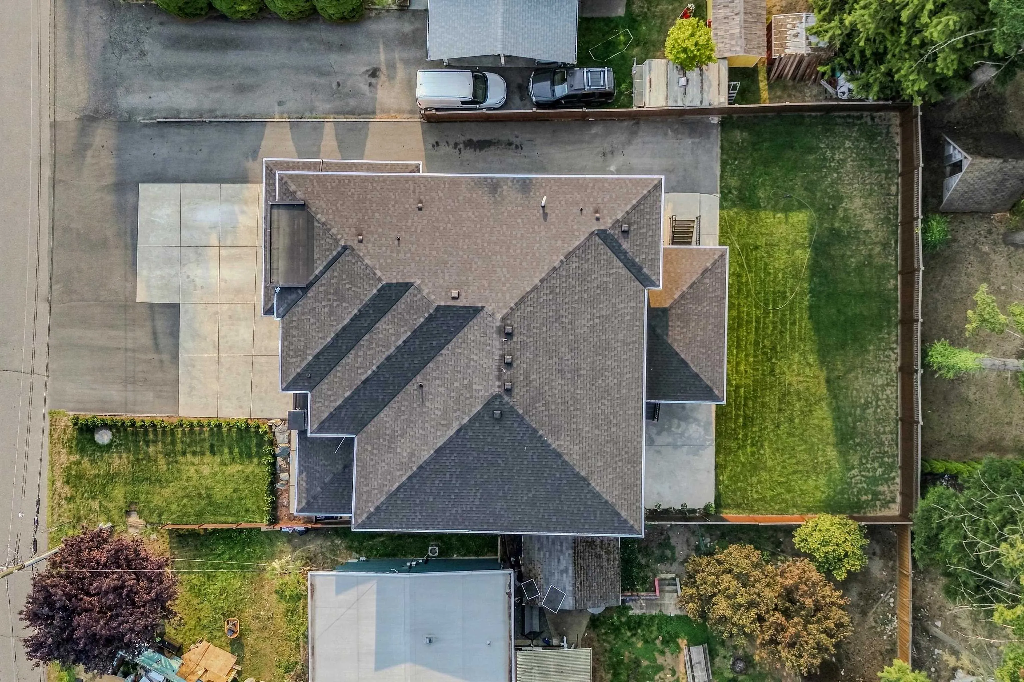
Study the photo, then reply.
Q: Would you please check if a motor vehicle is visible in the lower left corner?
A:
No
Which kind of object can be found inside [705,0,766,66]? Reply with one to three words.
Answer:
shed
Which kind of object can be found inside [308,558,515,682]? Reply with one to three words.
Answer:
house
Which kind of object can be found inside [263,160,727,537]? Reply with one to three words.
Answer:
house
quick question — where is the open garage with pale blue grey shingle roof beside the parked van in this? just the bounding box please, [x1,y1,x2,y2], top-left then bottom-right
[427,0,577,73]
